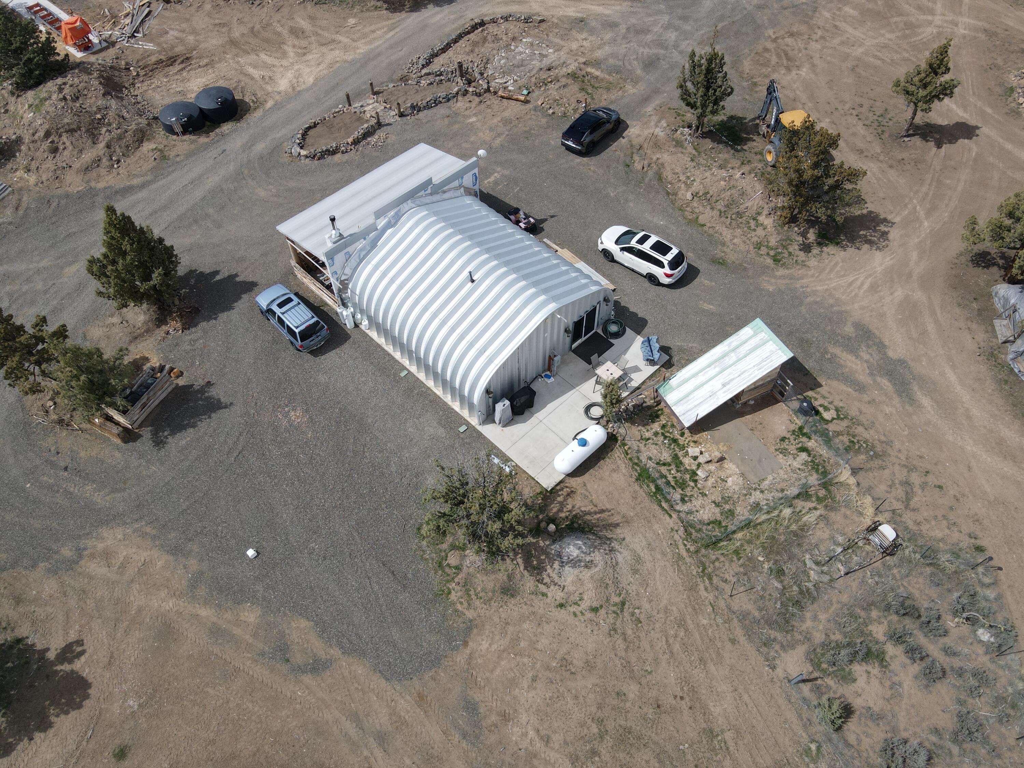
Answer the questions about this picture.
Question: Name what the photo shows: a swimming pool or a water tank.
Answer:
water tank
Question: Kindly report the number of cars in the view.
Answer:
3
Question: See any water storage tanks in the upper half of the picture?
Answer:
Yes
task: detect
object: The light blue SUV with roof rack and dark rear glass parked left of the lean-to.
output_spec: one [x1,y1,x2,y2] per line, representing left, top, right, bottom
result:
[257,284,337,357]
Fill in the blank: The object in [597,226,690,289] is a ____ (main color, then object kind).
white car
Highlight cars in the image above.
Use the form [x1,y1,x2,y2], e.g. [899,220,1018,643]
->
[560,107,621,155]
[257,284,337,357]
[597,226,690,289]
